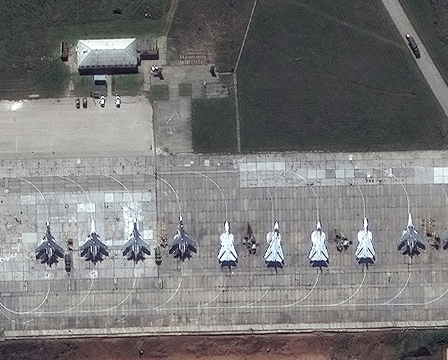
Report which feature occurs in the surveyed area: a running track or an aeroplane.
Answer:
aeroplane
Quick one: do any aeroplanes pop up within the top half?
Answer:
No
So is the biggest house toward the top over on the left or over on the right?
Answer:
left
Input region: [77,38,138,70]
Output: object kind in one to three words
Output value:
house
